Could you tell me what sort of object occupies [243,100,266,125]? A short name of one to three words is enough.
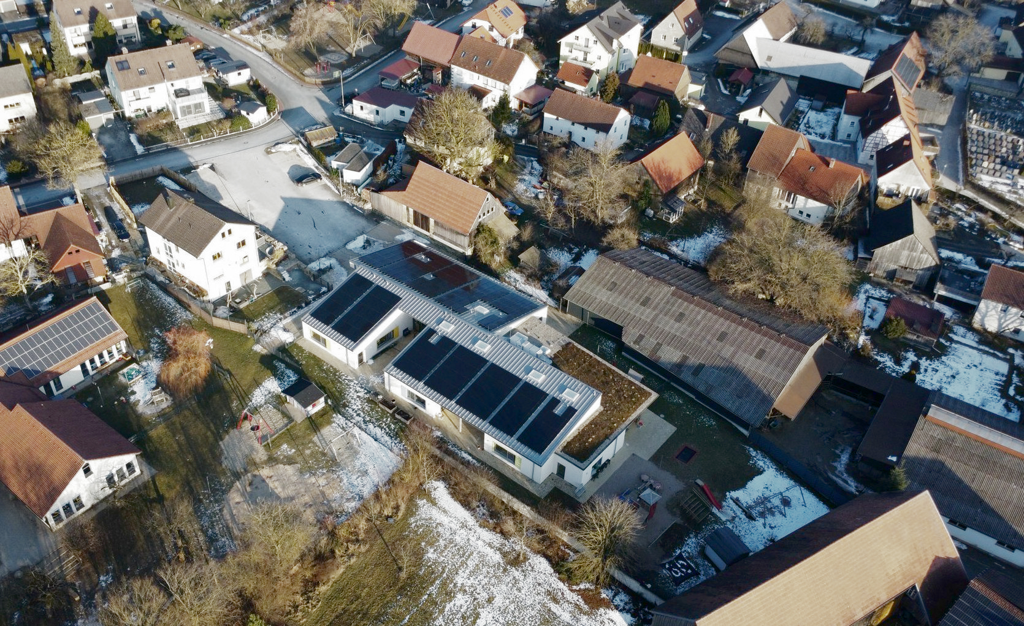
shed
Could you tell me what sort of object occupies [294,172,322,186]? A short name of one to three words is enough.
car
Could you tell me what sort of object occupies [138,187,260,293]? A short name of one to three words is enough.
house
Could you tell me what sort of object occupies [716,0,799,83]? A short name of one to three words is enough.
barn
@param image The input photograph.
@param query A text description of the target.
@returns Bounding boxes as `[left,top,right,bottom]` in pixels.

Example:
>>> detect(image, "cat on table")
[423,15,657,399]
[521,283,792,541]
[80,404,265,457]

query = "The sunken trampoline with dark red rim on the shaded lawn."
[675,445,697,464]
